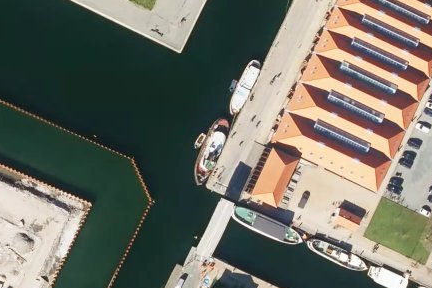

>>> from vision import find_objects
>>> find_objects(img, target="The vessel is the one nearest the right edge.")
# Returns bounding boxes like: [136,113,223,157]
[369,266,408,288]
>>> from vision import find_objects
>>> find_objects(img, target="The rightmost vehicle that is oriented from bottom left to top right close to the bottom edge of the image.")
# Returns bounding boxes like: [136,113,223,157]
[174,274,187,288]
